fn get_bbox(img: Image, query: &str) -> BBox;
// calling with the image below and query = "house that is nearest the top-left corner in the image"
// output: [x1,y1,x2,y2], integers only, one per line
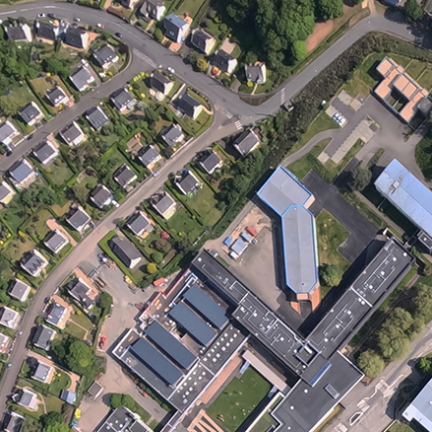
[2,25,33,47]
